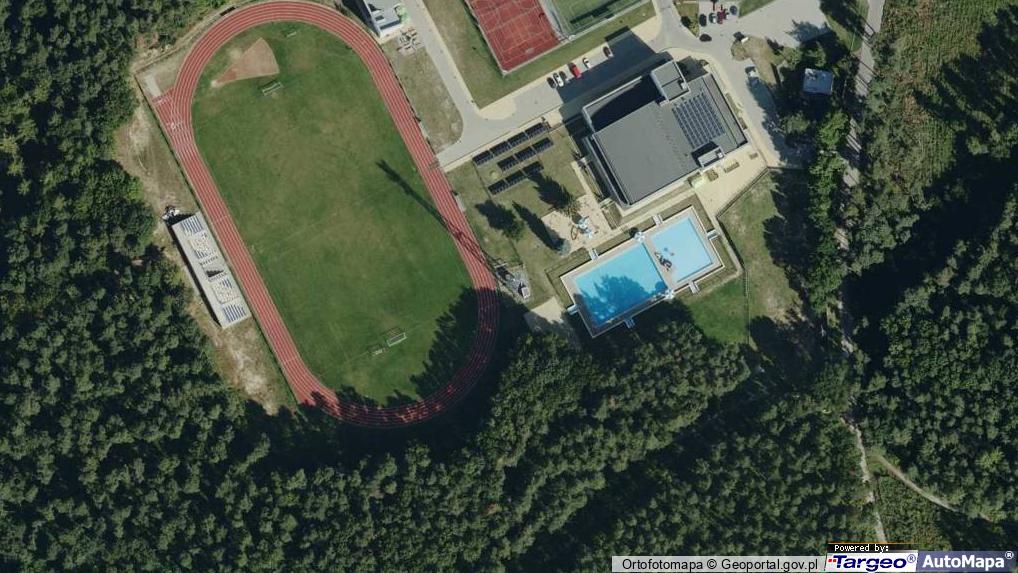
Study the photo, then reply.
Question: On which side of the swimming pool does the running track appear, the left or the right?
to the left of it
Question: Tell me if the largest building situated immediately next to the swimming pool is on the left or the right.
right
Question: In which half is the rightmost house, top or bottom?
top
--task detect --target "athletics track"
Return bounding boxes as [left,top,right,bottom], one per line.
[150,0,498,429]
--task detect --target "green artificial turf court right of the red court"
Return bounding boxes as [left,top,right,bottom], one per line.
[548,0,640,38]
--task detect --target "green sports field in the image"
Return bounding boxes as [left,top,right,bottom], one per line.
[193,23,474,406]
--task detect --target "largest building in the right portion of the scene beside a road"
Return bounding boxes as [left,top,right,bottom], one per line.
[582,59,748,209]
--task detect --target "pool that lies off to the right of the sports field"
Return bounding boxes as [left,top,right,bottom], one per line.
[561,206,724,337]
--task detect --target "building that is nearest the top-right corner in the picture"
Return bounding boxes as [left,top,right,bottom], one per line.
[803,69,834,95]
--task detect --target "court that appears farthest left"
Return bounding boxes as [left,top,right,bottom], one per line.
[466,0,563,75]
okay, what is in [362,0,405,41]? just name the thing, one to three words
building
